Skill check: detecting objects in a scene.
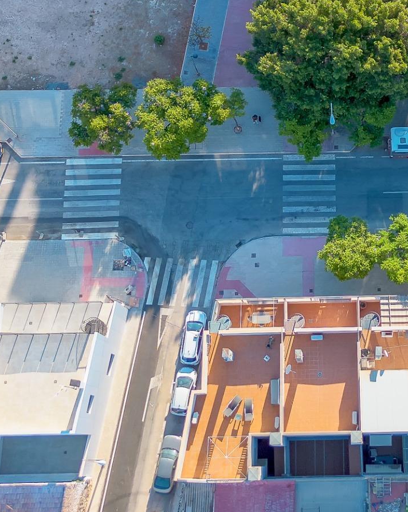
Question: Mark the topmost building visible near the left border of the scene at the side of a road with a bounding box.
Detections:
[0,301,133,481]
